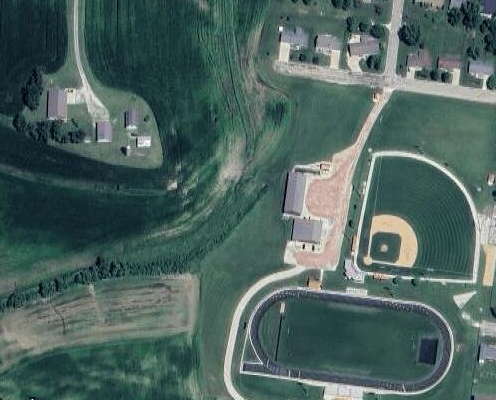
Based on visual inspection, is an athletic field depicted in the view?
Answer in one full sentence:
Yes, there's an athletic field down there.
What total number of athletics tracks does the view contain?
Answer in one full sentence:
Just 1 athletics track appears in this view.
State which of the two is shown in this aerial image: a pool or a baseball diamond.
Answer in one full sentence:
The image shows a baseball diamond.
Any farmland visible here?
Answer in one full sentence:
Yes, some farmland is visible.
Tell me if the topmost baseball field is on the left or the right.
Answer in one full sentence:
The topmost baseball field sits on the right side.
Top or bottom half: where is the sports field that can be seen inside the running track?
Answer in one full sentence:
Seen from above, the sports field that can be seen inside the running track lies in the bottom half of the view.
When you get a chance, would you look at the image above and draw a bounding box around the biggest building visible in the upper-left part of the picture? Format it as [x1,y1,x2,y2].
[48,86,67,118]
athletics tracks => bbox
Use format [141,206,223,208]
[242,285,454,394]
